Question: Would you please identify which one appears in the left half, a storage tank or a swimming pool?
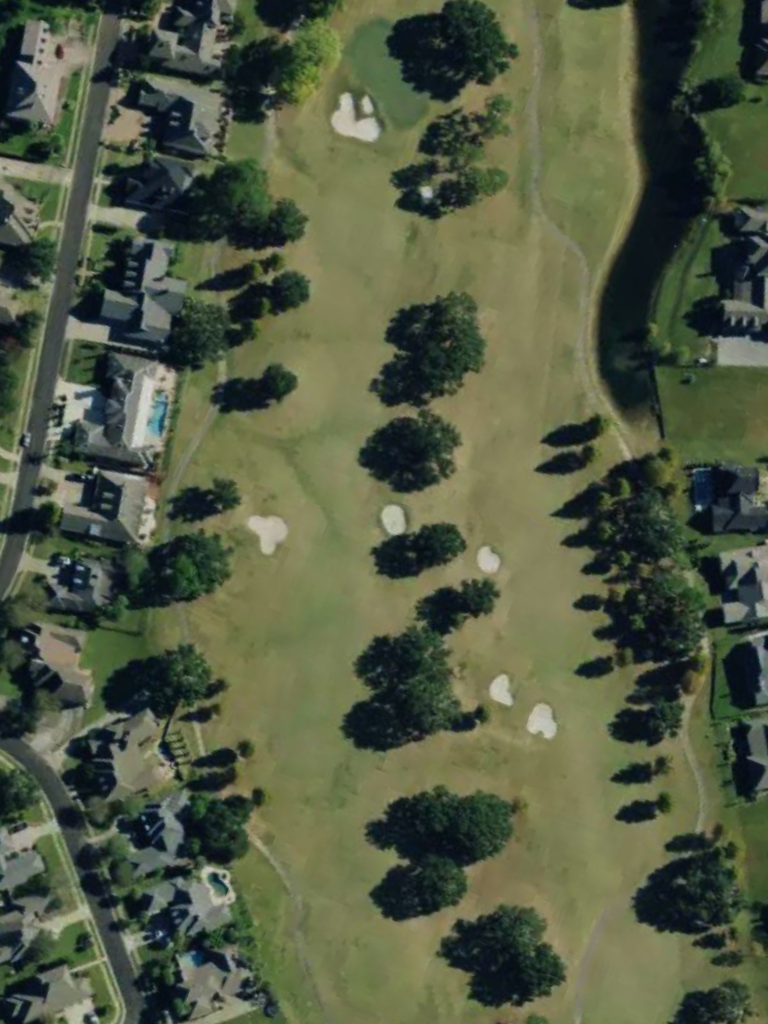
swimming pool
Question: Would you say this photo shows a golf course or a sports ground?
golf course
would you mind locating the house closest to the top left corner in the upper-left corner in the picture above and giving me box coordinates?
[7,22,64,135]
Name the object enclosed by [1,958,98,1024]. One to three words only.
house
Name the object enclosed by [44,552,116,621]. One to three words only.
house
